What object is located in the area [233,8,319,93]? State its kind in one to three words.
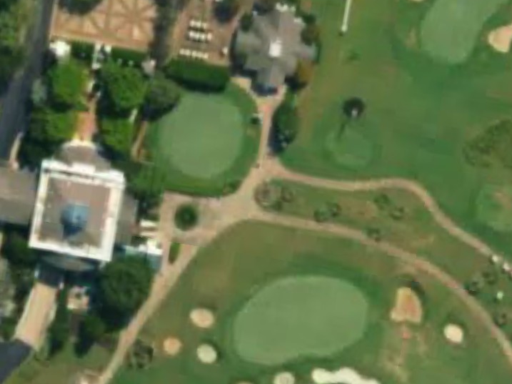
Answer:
building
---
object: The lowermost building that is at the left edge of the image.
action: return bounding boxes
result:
[0,132,138,272]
